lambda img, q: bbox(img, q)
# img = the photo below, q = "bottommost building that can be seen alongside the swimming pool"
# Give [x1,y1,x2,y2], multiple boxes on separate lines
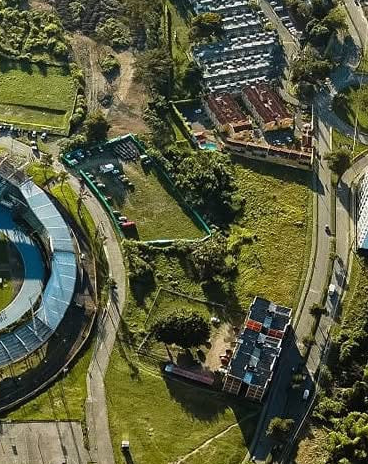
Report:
[220,139,312,171]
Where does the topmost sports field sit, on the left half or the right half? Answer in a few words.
left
